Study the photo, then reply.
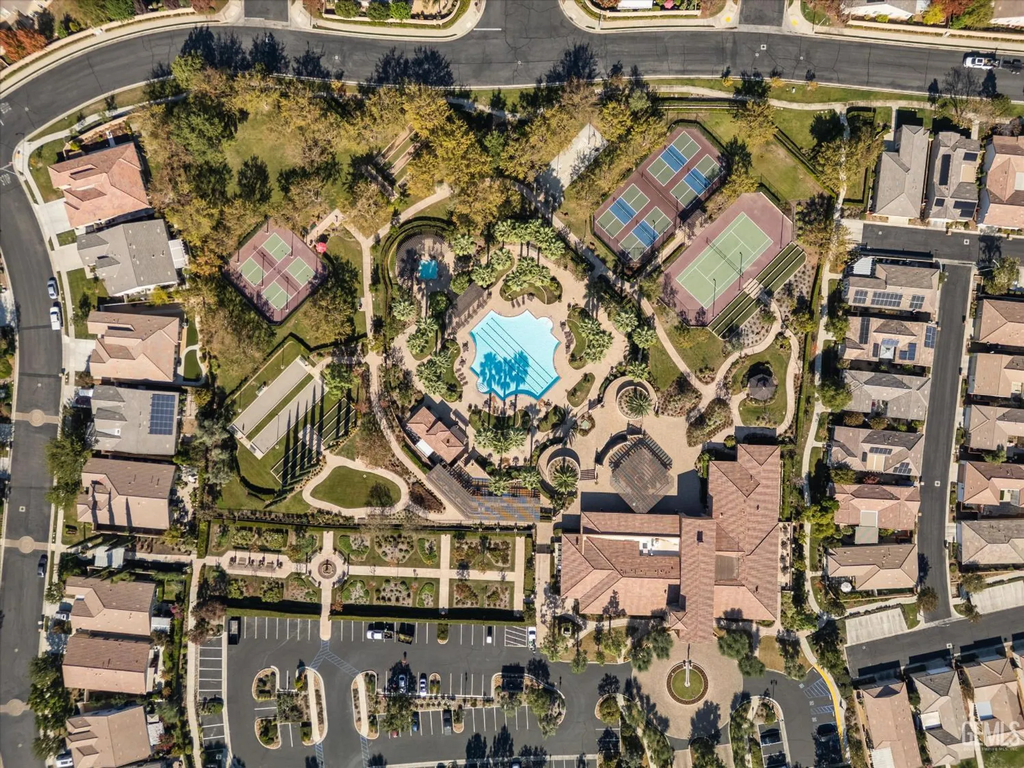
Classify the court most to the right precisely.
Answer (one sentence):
It looks like the court most to the right is a tennis court.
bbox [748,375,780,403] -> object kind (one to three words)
gazebo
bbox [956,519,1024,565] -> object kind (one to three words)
house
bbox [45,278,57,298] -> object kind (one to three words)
vehicle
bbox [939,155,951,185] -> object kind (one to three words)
solar panel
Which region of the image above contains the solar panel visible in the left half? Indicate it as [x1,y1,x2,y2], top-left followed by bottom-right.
[150,394,175,435]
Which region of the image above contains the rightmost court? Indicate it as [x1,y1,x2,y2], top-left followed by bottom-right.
[662,192,793,326]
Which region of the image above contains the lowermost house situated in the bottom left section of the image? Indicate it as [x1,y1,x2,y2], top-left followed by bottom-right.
[65,703,156,768]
